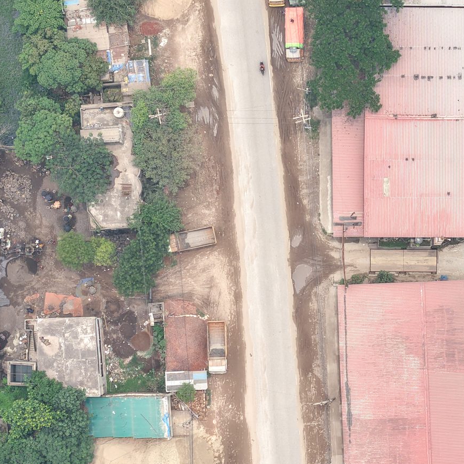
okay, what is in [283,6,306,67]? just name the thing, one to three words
truck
